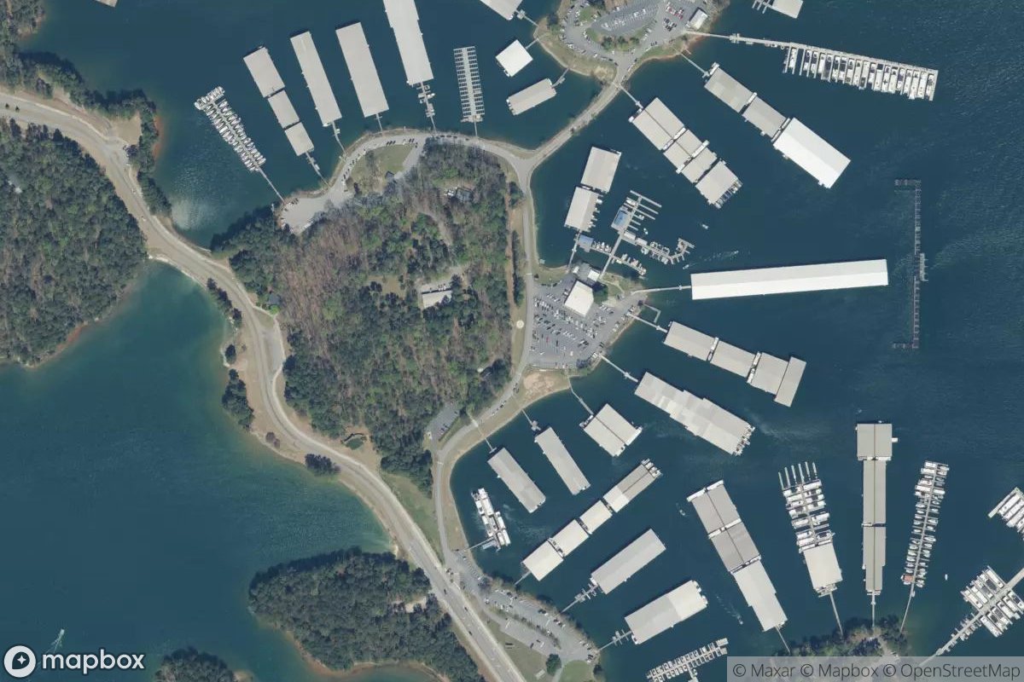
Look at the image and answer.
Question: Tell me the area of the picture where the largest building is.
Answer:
center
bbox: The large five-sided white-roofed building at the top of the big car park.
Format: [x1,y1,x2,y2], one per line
[565,281,594,316]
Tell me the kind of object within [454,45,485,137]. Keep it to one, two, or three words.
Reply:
pier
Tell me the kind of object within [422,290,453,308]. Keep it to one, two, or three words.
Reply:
building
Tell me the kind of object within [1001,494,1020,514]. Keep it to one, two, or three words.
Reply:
boat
